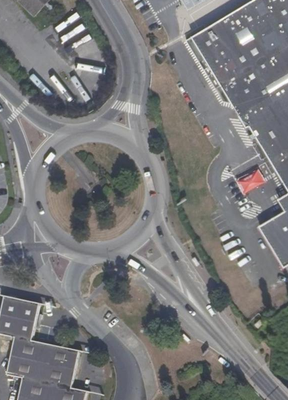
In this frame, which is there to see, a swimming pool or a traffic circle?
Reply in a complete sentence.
Looking from above, you can make out a traffic circle.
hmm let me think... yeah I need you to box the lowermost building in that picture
[8,336,88,400]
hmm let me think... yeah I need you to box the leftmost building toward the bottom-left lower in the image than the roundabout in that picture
[0,296,41,340]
